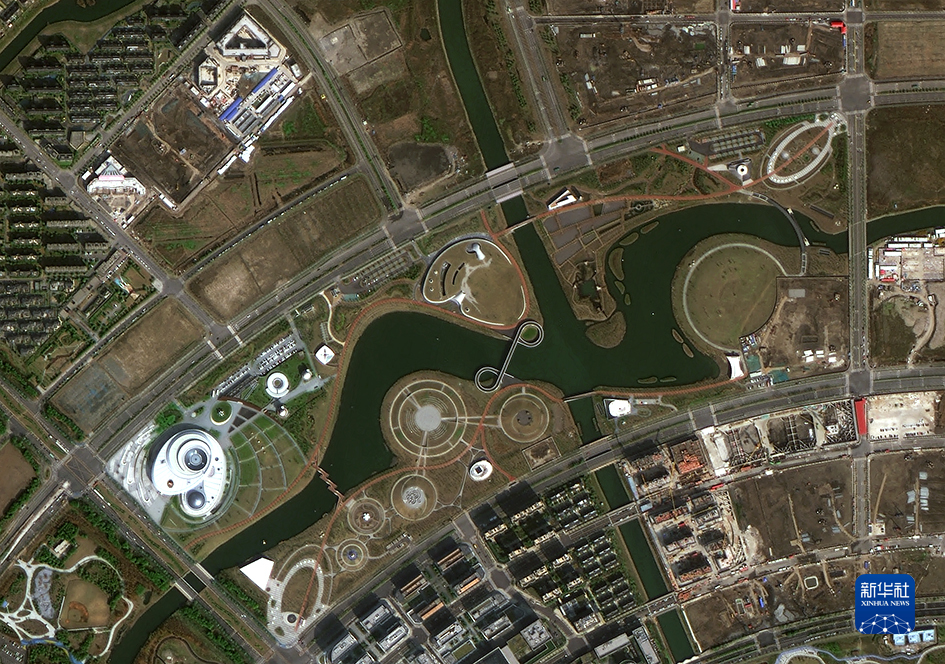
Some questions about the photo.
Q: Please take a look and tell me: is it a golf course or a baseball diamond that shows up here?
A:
baseball diamond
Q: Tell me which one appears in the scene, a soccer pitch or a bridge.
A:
bridge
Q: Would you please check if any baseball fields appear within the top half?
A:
No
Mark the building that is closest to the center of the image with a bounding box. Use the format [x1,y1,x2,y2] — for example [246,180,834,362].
[422,238,525,325]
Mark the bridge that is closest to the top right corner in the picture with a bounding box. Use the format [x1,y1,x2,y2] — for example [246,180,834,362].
[849,221,867,256]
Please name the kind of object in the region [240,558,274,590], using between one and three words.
building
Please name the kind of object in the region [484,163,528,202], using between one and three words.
bridge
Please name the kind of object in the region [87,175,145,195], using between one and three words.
building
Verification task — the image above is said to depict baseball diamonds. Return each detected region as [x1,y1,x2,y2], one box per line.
[64,575,111,631]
